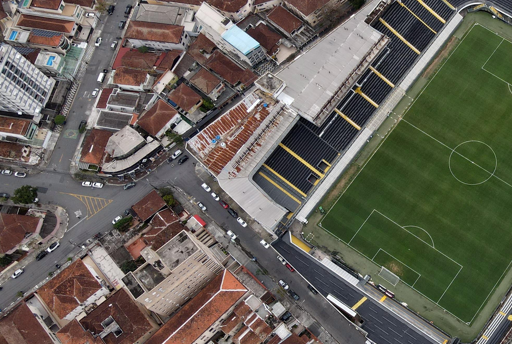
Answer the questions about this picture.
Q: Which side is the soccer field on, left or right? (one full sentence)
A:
You can find the soccer field on the right side of the picture.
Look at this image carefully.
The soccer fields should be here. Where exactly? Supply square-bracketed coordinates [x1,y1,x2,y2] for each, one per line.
[301,11,512,341]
